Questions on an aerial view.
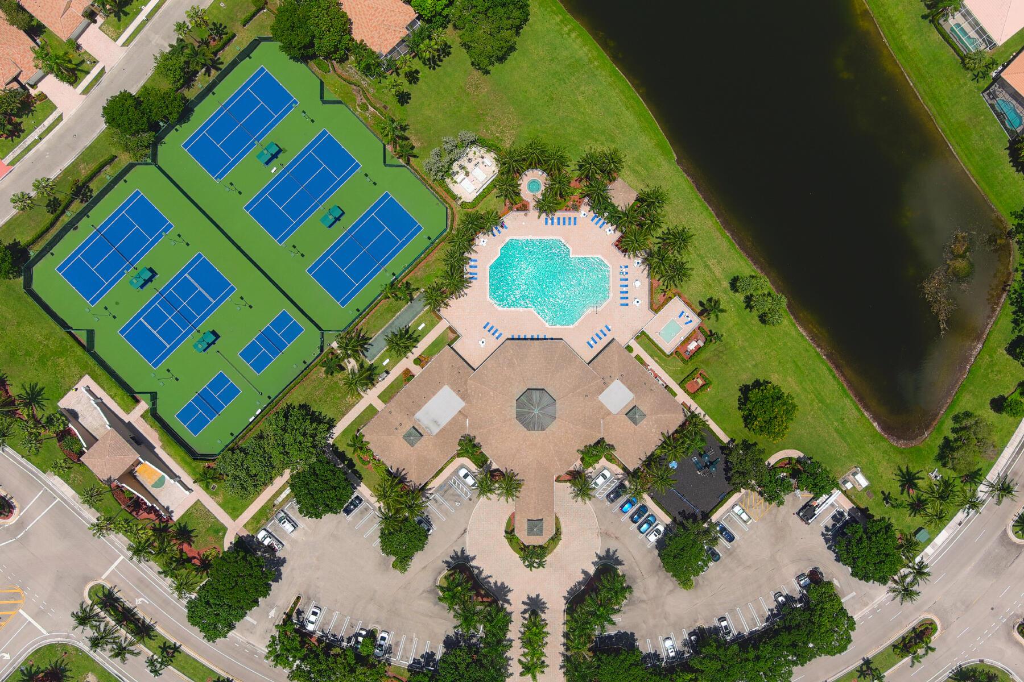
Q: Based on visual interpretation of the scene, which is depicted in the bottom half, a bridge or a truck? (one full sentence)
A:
The one visible in the bottom half is a truck.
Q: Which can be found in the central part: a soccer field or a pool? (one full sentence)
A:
What appears in the central part is a pool.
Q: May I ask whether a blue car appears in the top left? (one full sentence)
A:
No, there's no blue car to be seen in the top left.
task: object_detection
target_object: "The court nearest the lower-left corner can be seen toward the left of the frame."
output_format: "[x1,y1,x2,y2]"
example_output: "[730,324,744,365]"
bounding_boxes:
[136,460,165,489]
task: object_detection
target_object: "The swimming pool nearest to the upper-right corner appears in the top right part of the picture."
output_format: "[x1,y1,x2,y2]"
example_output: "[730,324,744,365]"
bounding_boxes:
[949,22,979,50]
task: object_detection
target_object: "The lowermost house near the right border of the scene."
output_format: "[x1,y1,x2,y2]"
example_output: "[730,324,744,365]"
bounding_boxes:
[993,48,1024,110]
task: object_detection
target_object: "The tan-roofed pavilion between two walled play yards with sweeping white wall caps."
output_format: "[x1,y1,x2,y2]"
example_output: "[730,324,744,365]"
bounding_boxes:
[51,385,193,515]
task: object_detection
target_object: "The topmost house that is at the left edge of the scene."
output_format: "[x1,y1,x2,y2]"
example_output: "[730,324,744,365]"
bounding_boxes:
[19,0,104,42]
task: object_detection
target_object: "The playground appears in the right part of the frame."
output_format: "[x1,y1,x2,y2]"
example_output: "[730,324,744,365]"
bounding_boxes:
[636,427,735,519]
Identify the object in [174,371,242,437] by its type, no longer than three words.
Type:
sports court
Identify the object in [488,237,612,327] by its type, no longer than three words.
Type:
swimming pool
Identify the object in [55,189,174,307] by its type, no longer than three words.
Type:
tennis court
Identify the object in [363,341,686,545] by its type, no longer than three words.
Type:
building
